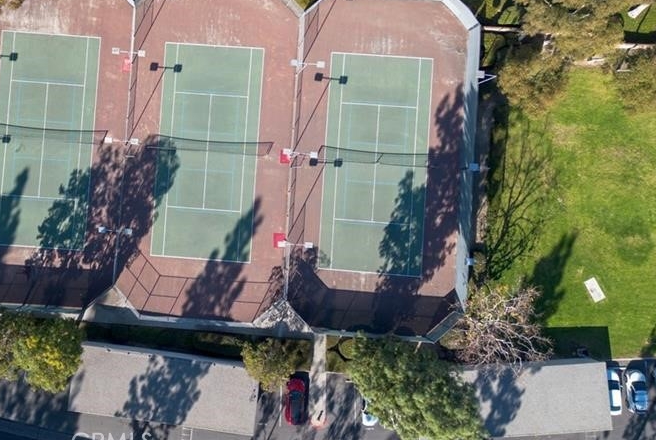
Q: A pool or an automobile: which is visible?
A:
automobile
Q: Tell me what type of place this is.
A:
sports ground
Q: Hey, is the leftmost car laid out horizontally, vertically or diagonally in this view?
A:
vertically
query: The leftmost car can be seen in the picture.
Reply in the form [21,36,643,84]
[287,380,308,425]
